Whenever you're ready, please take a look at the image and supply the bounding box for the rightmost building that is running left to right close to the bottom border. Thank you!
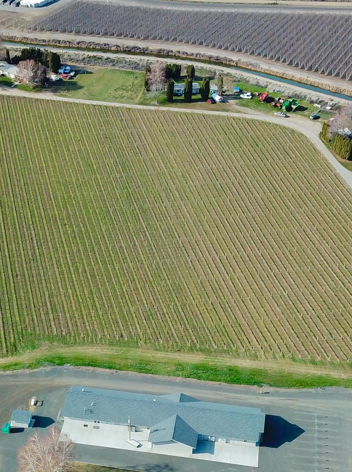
[63,386,269,456]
